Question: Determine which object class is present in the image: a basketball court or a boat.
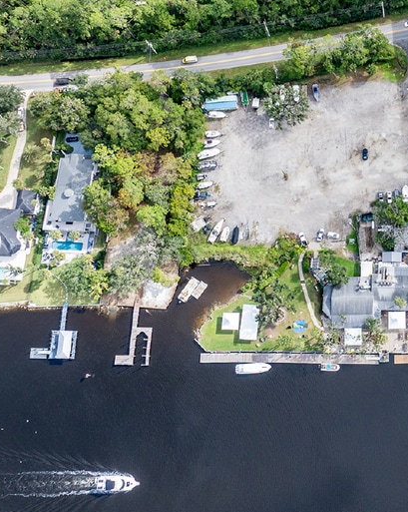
boat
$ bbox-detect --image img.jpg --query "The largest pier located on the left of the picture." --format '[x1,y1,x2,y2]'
[114,305,155,366]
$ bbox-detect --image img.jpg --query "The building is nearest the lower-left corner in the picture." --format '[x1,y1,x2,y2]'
[30,308,81,359]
